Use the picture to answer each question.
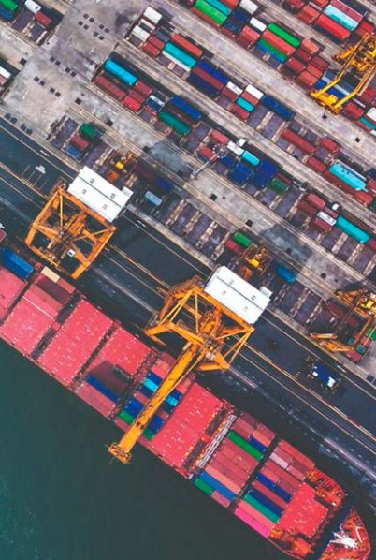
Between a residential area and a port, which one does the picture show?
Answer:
port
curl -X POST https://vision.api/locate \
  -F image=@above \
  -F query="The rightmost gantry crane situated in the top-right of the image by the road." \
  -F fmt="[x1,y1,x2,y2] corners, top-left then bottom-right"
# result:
[308,35,376,117]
